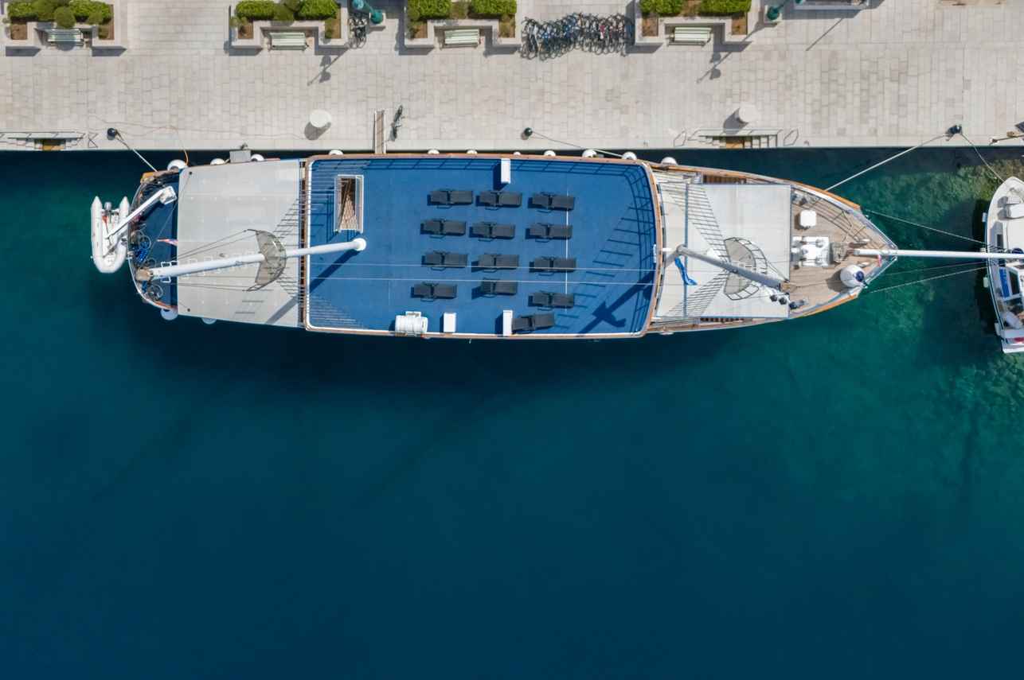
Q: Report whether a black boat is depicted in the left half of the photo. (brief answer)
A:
No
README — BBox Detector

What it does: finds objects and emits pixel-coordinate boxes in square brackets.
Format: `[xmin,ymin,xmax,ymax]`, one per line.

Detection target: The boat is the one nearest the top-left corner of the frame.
[91,195,129,270]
